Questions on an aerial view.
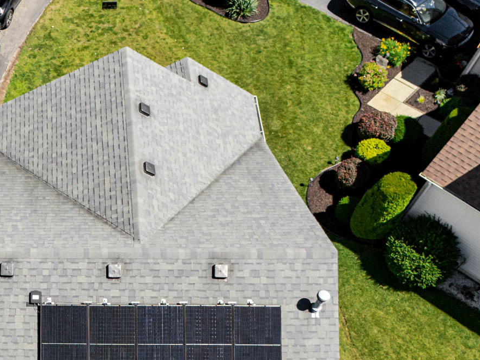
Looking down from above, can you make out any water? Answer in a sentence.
No, there is no water in the image.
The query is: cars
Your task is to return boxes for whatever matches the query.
[347,0,478,62]
[0,0,19,28]
[449,0,480,18]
